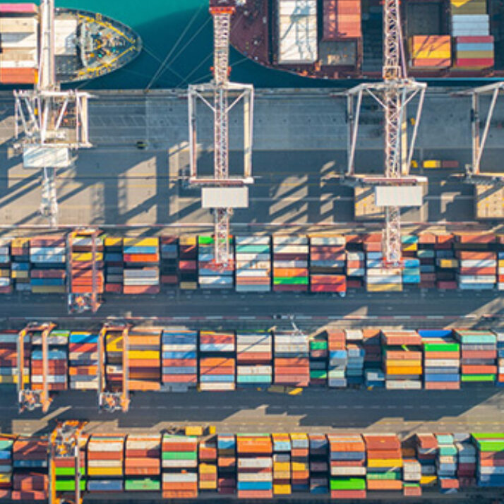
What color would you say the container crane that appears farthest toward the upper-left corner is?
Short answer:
white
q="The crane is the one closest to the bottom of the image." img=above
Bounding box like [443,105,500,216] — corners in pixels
[47,420,90,504]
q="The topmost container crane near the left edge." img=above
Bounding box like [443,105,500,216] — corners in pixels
[19,0,114,224]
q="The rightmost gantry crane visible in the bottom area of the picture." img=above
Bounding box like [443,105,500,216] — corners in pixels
[98,318,137,410]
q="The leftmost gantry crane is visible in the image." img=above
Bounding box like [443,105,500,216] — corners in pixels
[18,318,61,408]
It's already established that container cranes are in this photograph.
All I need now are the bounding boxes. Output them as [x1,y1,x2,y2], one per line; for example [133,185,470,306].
[47,420,90,504]
[18,318,61,408]
[19,0,114,224]
[181,0,260,266]
[98,318,137,410]
[333,0,432,268]
[67,225,107,311]
[454,83,504,185]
